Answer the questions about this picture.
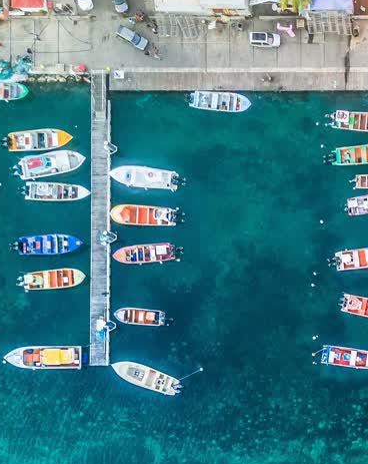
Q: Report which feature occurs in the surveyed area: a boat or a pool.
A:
boat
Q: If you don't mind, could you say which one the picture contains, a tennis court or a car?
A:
car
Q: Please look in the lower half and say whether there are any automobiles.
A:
No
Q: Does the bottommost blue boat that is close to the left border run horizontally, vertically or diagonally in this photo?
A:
horizontally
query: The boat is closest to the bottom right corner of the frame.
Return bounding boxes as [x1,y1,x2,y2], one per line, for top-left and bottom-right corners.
[320,345,368,369]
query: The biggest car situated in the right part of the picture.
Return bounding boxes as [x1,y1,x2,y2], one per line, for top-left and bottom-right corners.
[250,30,281,49]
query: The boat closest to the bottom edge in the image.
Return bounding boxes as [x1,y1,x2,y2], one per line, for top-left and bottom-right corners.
[110,362,201,396]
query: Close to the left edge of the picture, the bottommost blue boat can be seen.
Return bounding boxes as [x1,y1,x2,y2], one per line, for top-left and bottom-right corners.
[12,233,89,254]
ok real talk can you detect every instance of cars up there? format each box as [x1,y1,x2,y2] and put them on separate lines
[250,30,281,49]
[78,0,95,12]
[116,24,150,51]
[111,0,131,15]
